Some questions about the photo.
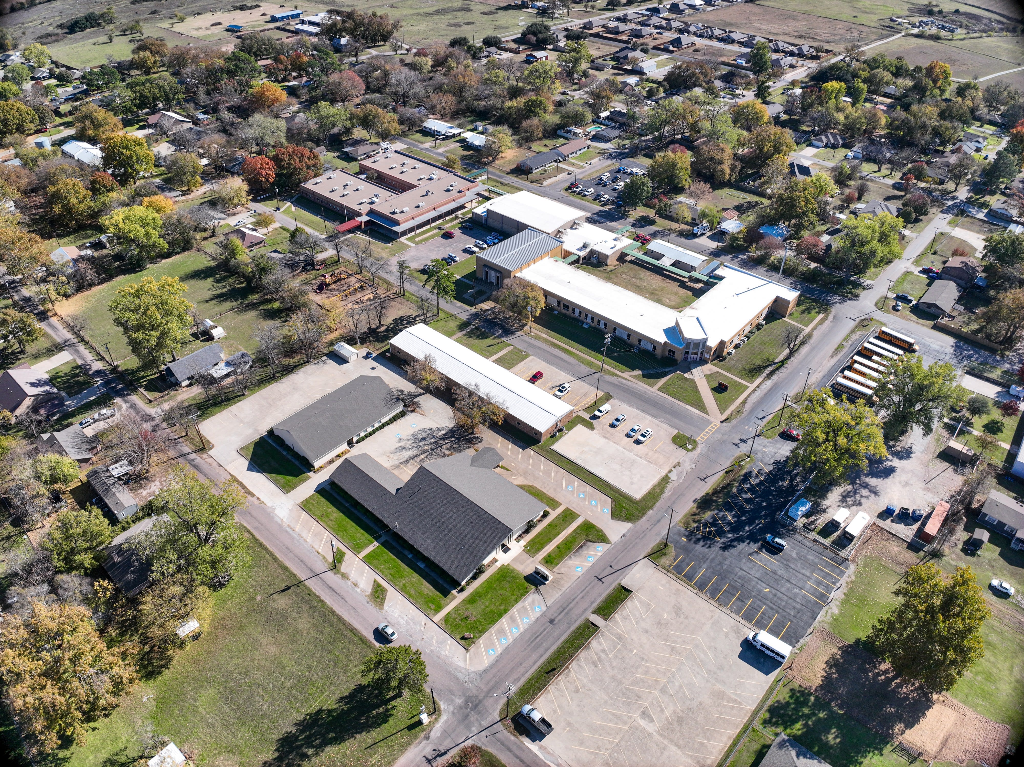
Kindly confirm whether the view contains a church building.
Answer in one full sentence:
Yes, looking at the shot, I can spot a church building.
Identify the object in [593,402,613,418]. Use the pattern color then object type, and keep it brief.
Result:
white vehicle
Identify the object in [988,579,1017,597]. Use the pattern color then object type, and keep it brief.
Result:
white car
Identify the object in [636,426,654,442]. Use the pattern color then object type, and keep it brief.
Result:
white car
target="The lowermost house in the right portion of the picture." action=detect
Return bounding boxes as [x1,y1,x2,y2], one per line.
[735,716,842,767]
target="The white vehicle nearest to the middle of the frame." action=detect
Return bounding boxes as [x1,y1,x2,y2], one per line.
[554,382,571,397]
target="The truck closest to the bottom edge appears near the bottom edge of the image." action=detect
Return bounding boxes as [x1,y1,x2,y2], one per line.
[521,703,555,735]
